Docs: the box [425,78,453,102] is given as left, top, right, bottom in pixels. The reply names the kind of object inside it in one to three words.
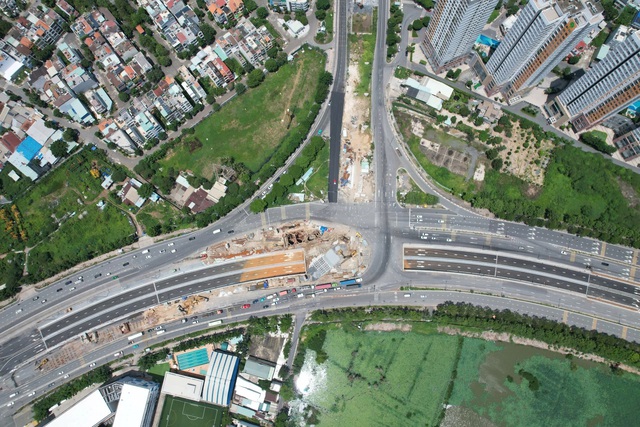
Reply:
building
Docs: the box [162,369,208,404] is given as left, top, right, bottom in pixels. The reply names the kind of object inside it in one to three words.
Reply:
building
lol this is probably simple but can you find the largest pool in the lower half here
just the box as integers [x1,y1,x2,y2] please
[176,348,211,371]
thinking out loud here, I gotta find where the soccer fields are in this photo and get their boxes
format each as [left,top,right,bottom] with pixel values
[159,396,232,427]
